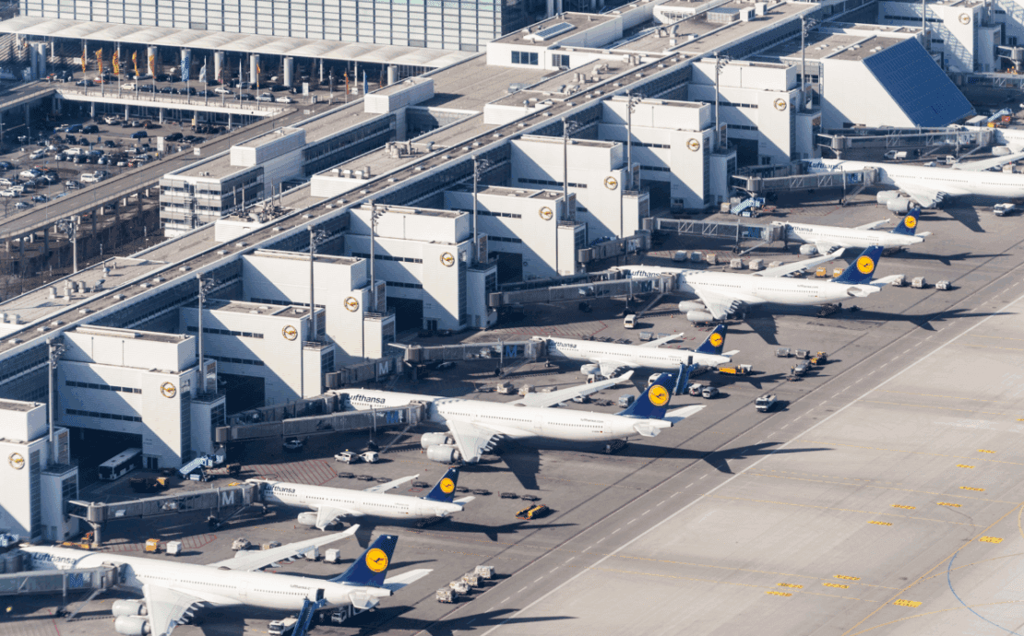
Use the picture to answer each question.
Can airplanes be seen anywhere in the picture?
Yes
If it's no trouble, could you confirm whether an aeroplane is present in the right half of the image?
Yes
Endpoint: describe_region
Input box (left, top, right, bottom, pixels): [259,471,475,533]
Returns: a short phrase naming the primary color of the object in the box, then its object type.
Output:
white airplane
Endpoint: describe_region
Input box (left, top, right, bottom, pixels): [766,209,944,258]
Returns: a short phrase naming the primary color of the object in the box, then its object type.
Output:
white airplane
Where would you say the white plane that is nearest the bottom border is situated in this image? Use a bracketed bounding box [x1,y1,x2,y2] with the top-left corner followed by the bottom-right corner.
[11,519,417,636]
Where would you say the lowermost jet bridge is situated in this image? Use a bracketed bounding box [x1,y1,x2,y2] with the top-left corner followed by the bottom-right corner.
[0,561,131,617]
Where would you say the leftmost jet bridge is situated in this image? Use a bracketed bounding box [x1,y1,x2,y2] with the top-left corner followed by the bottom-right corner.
[0,546,28,573]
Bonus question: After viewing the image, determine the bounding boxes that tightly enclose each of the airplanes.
[790,152,1024,214]
[545,326,739,378]
[11,519,417,636]
[326,367,694,463]
[766,209,944,258]
[259,471,475,533]
[614,245,898,323]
